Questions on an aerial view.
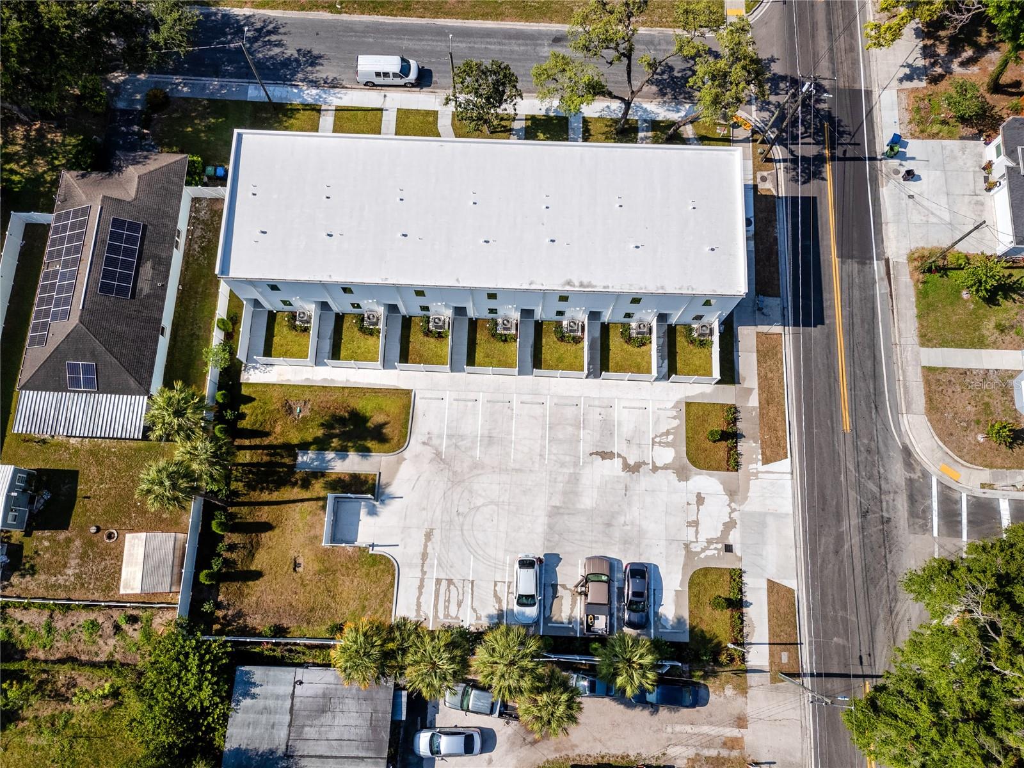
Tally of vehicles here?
8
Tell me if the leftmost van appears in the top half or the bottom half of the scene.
top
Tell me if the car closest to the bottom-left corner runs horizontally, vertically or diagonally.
horizontally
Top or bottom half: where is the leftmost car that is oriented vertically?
bottom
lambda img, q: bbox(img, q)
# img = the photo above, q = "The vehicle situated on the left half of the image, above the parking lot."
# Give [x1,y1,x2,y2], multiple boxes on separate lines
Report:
[354,56,420,90]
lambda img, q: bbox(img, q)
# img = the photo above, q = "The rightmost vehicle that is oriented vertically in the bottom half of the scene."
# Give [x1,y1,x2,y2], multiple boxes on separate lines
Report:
[622,564,651,628]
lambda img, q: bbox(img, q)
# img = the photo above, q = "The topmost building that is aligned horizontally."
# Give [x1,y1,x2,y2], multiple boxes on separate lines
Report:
[216,131,748,330]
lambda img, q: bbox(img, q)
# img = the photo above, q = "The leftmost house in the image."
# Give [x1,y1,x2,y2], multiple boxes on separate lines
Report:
[0,465,38,530]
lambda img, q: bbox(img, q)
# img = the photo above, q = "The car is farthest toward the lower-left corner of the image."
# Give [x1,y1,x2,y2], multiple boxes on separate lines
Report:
[415,728,481,762]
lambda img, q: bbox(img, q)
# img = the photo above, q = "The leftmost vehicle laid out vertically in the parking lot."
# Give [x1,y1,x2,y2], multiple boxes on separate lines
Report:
[512,556,542,622]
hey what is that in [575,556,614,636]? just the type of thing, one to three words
truck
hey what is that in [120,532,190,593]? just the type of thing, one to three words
shed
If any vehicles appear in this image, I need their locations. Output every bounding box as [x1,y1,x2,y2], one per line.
[512,556,542,622]
[575,556,614,636]
[632,678,701,711]
[447,687,527,729]
[566,667,633,704]
[415,728,481,762]
[354,56,420,90]
[622,564,651,628]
